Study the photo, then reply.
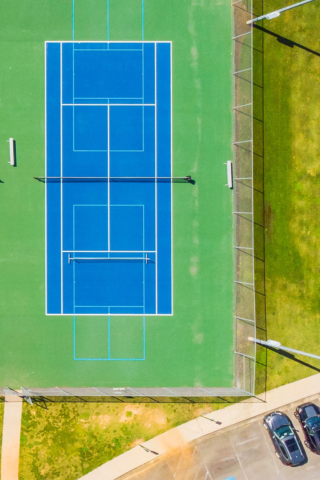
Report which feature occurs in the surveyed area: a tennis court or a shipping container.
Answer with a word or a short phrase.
tennis court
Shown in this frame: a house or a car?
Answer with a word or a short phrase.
car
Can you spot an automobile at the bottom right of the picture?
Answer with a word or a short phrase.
Yes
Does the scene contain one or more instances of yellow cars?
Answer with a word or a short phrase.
No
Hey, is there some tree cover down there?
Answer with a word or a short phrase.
No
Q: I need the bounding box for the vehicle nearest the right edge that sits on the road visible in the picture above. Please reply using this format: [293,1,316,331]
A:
[296,400,320,456]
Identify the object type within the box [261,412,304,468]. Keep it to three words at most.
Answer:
car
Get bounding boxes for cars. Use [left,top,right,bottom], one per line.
[296,400,320,456]
[261,412,304,468]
